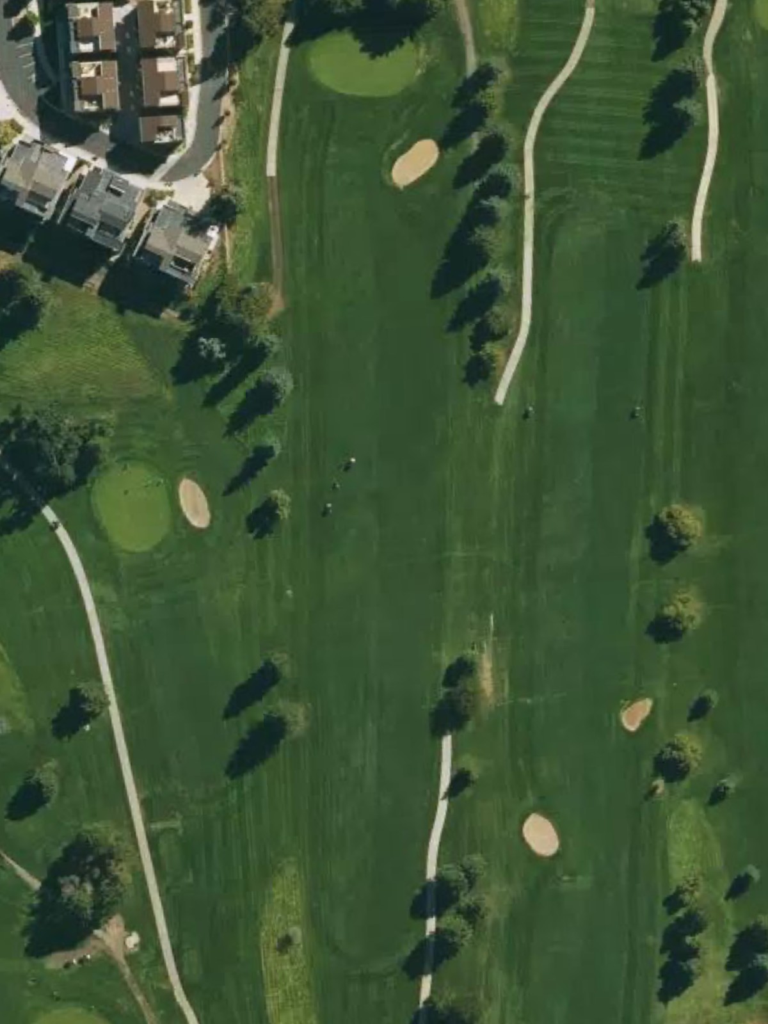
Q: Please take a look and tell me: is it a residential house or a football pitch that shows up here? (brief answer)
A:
residential house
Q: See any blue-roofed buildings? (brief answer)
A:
No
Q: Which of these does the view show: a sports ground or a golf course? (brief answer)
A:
golf course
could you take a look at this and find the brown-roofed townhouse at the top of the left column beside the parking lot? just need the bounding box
[62,0,114,56]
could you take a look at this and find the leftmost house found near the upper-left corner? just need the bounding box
[0,138,63,225]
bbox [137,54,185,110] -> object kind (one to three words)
house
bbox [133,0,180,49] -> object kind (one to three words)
house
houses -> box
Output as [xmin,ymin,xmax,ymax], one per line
[137,54,185,110]
[140,201,215,288]
[135,112,181,146]
[66,57,118,114]
[0,138,63,225]
[133,0,180,49]
[65,165,140,252]
[62,0,114,56]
